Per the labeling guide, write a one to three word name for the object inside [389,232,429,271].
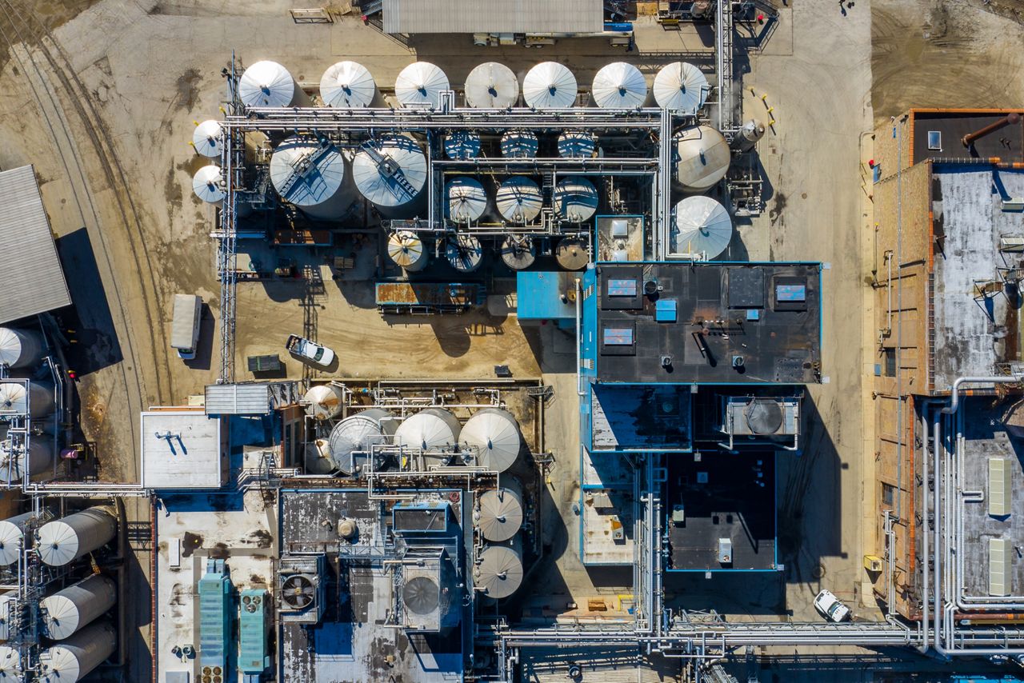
storage tank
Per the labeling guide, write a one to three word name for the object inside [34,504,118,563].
storage tank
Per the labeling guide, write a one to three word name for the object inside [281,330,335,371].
truck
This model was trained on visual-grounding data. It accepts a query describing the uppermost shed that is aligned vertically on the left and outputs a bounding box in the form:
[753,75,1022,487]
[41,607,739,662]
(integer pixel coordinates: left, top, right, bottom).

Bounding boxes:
[0,164,73,325]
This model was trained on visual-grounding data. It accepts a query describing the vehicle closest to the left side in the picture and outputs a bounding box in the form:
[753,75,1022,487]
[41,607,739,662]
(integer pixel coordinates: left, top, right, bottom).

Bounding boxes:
[169,294,210,363]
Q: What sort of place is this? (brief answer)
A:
industrial area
